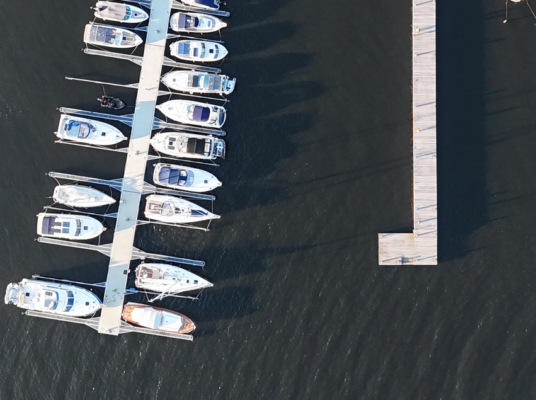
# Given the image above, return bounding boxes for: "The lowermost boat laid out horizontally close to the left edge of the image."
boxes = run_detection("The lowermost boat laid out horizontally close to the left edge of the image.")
[6,273,109,320]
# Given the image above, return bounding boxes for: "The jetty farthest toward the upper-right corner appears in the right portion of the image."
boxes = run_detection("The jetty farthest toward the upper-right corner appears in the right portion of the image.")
[378,0,438,265]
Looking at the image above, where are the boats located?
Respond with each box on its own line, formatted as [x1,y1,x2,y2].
[84,25,145,52]
[120,297,197,336]
[151,97,231,130]
[144,191,223,231]
[90,1,149,25]
[54,116,130,150]
[168,39,228,63]
[151,163,225,194]
[93,94,132,111]
[47,181,117,214]
[6,273,109,320]
[135,262,214,302]
[144,127,230,163]
[158,67,238,98]
[169,12,231,35]
[39,211,109,241]
[185,0,230,12]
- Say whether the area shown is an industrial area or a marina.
marina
